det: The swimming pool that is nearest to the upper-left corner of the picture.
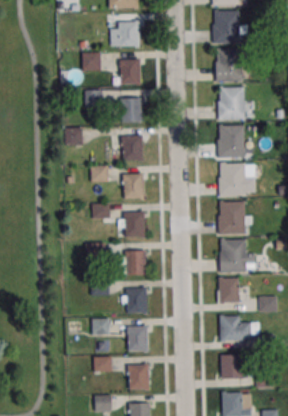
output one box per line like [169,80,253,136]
[66,68,84,86]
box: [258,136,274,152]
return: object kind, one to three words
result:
swimming pool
